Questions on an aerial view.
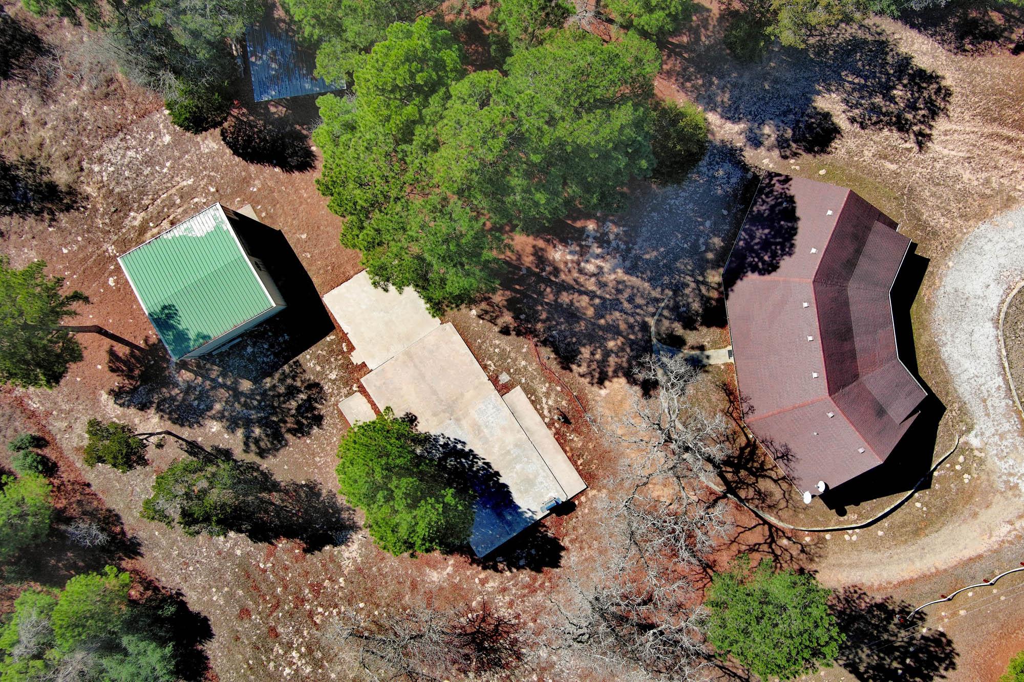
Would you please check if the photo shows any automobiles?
No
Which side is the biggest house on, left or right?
right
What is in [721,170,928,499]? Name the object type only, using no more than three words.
house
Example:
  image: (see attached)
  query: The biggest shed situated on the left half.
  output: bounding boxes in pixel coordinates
[117,202,287,360]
